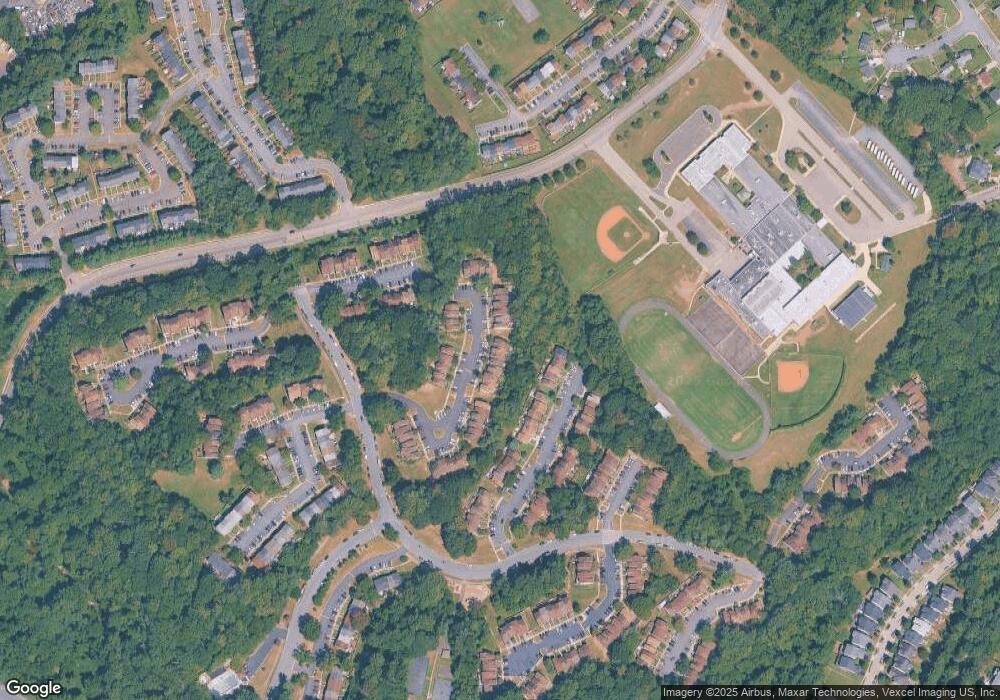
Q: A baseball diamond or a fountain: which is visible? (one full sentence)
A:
Looking from above, you can make out a baseball diamond.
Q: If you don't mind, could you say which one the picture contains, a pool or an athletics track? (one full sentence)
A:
This aerial view contains an athletics track.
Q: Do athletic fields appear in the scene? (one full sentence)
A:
Yes, this view includes an athletic field.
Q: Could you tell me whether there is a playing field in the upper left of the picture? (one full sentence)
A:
No, in the upper left of the picture there is no playing field.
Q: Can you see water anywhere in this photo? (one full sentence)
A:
No, there's no water in this view.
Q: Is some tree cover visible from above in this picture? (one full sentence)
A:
Yes, tree cover can be seen from above here.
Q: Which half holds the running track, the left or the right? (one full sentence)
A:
The running track appears in the right half of the scene.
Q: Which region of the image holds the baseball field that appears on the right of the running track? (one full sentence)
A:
The baseball field that appears on the right of the running track is located in the right region of the scene.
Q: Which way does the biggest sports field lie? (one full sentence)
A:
The biggest sports field has been laid out on a diagonal relative to the frame.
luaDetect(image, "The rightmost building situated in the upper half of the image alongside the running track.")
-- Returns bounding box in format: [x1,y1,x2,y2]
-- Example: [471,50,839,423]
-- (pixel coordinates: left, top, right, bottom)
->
[682,123,859,341]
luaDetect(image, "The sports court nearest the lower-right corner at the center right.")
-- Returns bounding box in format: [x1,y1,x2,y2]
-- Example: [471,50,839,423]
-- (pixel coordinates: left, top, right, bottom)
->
[717,327,768,376]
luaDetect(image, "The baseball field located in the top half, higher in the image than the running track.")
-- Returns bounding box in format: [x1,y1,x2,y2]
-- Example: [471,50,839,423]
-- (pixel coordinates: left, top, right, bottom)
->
[598,206,661,263]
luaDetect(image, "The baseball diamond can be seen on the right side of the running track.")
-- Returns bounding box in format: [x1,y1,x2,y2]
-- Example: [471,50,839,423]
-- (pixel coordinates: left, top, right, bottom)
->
[771,352,845,428]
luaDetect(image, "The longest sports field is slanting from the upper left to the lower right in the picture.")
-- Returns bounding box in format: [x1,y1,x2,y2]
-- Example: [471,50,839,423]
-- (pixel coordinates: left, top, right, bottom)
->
[625,305,764,452]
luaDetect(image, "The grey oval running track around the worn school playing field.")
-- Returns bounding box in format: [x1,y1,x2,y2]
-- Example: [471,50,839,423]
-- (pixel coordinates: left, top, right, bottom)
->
[618,297,771,460]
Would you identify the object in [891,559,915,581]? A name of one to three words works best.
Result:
house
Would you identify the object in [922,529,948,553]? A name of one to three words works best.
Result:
house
